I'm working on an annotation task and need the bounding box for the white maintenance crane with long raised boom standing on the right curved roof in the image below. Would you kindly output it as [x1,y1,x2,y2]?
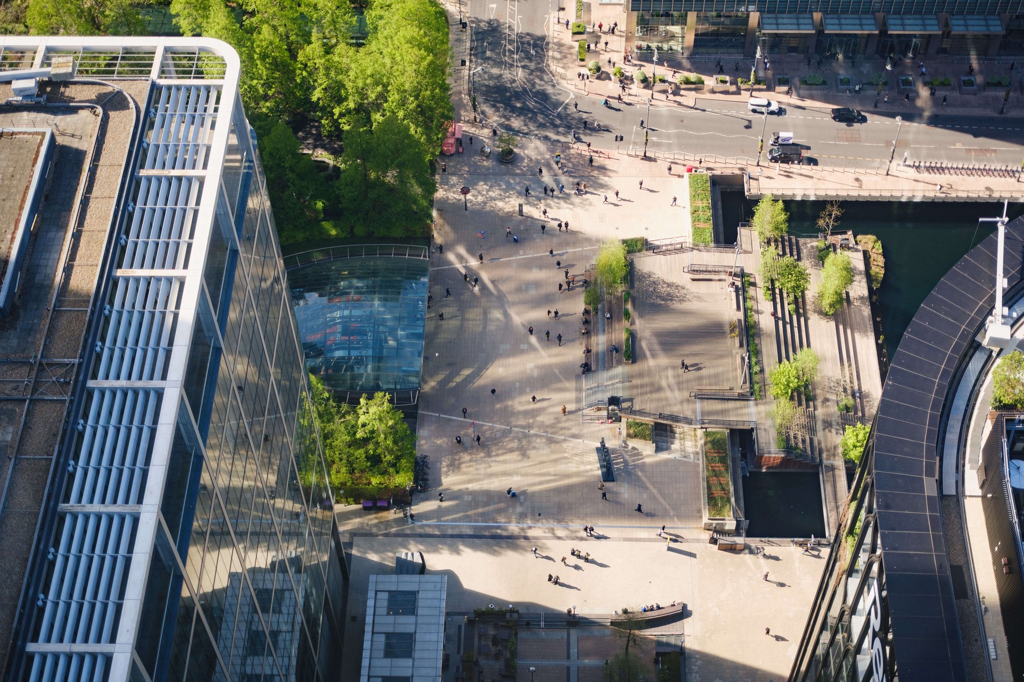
[959,201,1020,374]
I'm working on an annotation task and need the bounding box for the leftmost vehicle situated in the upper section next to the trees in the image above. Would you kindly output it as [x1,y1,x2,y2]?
[443,119,463,155]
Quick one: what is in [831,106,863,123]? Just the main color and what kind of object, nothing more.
black car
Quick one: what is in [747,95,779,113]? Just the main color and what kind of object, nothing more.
white car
